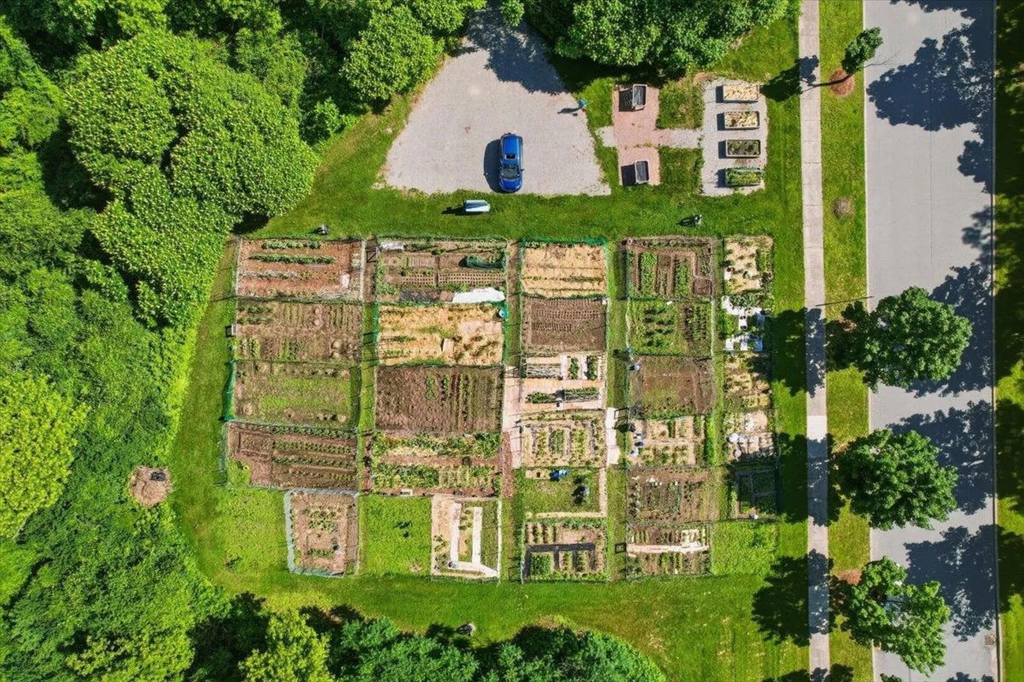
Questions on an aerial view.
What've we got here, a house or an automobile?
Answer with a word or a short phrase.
automobile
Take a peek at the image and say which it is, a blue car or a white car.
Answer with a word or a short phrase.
blue car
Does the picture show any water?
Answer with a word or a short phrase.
No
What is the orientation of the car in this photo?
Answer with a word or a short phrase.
from top to bottom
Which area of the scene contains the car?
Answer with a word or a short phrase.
top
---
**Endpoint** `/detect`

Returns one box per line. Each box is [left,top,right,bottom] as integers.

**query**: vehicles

[497,131,526,192]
